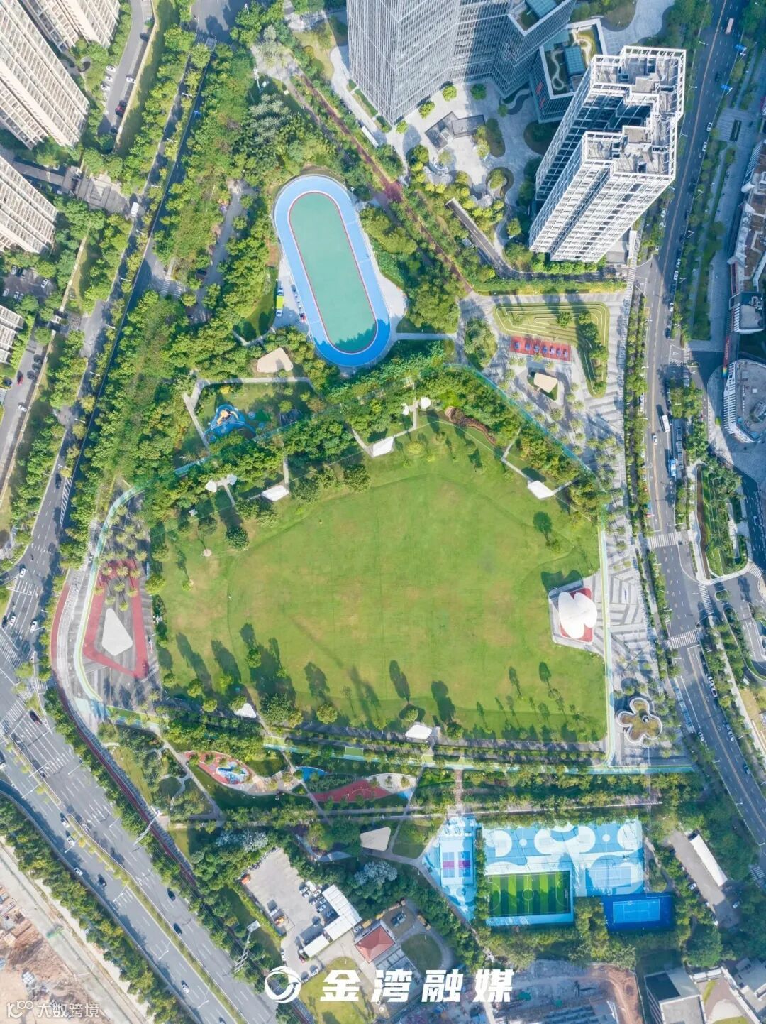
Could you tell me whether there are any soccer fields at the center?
No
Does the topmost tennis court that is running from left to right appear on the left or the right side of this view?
right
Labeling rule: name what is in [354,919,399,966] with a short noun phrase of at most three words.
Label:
house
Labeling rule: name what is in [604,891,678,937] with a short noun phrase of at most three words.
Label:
tennis court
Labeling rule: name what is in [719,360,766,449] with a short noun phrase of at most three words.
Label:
building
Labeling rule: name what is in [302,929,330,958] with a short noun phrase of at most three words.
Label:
shed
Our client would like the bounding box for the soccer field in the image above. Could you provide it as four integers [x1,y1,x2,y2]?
[486,871,573,926]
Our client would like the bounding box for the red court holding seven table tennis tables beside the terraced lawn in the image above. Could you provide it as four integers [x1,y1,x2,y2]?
[510,336,572,361]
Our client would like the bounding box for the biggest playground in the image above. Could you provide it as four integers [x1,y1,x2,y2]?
[204,404,260,441]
